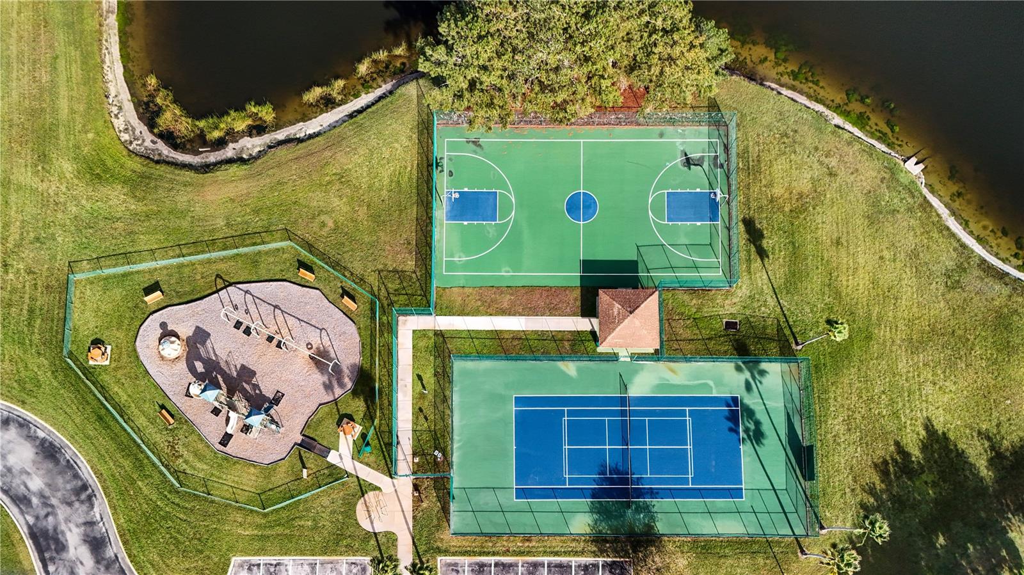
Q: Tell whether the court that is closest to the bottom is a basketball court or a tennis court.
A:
tennis court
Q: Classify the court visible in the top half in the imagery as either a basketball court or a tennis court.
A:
basketball court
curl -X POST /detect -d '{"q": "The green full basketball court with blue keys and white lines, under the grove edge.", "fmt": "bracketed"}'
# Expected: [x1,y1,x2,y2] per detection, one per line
[433,126,731,287]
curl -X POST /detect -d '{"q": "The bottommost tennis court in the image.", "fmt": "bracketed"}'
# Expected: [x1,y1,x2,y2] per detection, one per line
[453,361,808,535]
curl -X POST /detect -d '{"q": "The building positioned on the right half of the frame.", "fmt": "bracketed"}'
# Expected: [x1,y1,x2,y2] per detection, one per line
[596,289,660,362]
